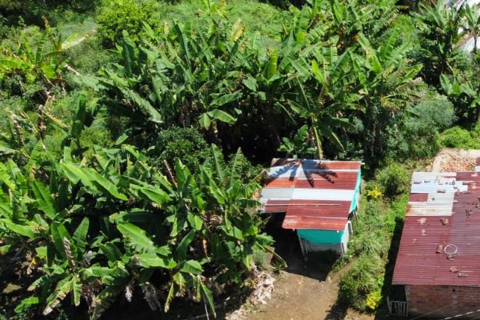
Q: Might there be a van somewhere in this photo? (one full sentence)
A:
No, the scene contains no van.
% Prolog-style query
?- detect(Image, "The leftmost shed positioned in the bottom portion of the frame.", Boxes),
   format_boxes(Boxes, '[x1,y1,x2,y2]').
[262,158,366,260]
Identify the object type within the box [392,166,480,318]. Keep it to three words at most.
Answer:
shed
